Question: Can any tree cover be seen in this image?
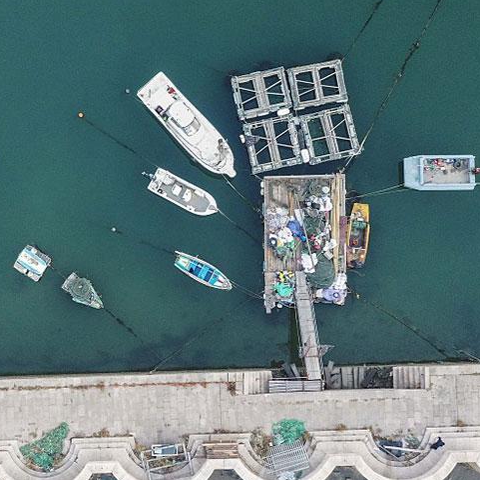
No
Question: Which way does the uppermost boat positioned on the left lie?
diagonally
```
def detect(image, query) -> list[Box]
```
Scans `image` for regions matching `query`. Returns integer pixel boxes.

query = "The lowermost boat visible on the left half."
[61,271,103,309]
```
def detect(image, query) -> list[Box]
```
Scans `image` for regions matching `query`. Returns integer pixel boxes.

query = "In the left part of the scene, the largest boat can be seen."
[138,69,238,175]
